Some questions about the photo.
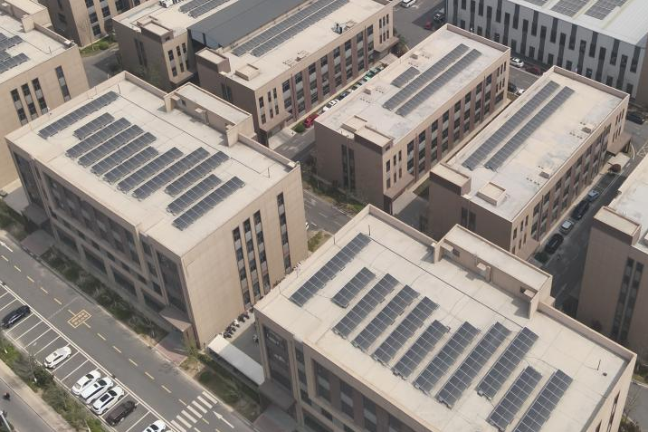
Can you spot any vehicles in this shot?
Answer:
Yes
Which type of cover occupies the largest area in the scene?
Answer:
buildings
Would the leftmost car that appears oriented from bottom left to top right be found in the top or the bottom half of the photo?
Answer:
bottom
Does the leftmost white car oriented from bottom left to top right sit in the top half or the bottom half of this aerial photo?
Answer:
bottom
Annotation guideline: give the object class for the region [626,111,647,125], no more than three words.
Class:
vehicle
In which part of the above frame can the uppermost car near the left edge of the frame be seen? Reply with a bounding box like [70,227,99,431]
[0,305,31,328]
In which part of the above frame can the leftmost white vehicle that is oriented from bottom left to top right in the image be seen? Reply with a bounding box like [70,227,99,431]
[42,345,73,370]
